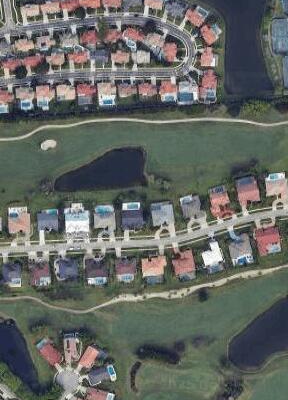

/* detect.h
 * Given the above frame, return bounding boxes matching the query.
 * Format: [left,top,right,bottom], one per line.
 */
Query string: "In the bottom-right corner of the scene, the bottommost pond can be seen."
[228,296,288,369]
